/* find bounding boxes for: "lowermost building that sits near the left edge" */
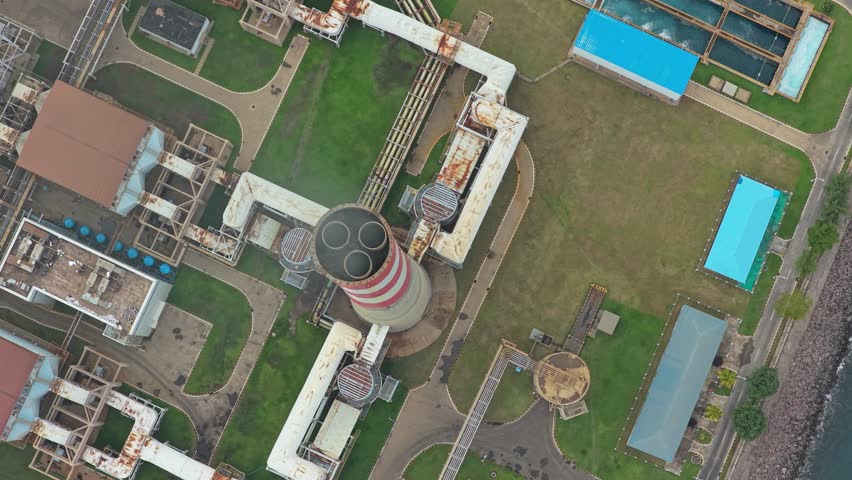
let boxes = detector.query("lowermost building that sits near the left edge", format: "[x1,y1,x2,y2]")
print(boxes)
[0,329,65,448]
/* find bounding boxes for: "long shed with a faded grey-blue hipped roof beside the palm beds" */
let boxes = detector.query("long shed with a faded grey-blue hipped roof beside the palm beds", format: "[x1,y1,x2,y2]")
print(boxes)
[627,304,727,463]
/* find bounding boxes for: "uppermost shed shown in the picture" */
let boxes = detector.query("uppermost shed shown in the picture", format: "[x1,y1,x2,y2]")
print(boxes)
[138,0,210,54]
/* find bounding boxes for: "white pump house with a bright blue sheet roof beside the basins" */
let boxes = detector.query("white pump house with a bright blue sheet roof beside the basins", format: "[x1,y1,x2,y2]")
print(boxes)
[573,8,699,101]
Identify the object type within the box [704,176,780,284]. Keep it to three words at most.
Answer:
shed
